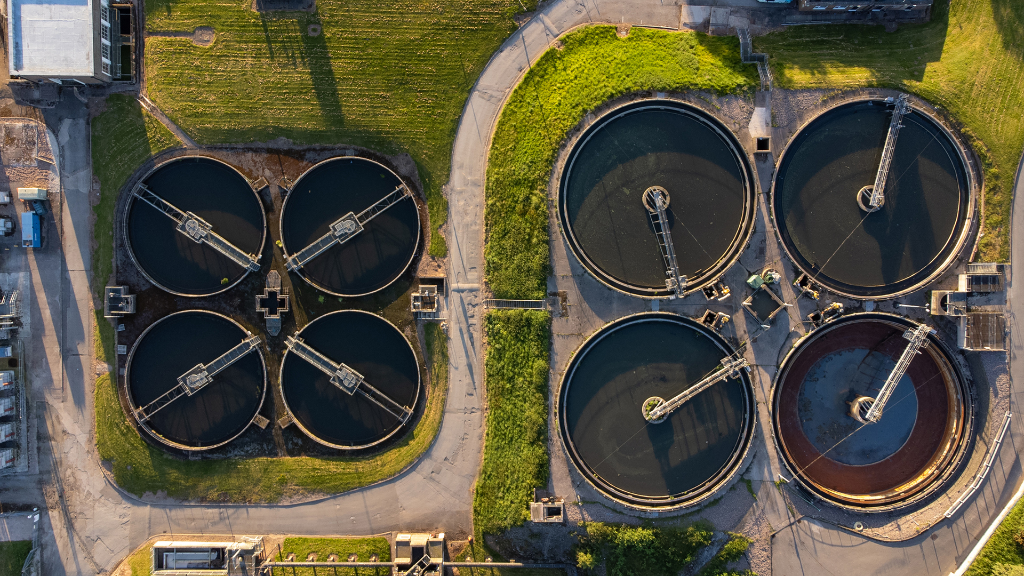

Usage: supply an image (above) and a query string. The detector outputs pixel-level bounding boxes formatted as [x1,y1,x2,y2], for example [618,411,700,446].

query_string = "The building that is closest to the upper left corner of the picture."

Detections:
[7,0,112,87]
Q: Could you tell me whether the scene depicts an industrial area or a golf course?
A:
industrial area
